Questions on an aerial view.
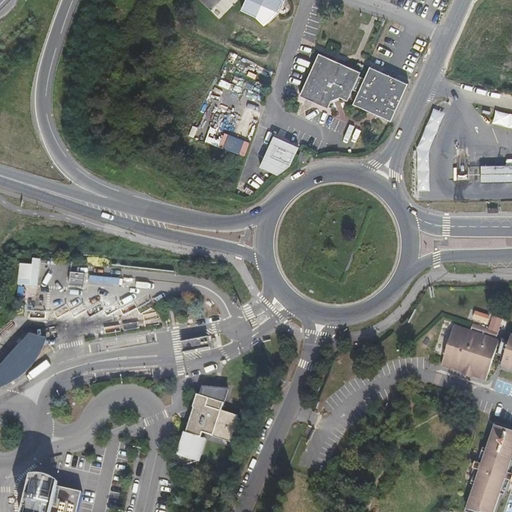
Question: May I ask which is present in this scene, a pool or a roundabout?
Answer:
roundabout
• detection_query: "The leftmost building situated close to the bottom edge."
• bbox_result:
[18,468,60,512]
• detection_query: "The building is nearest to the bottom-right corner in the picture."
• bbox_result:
[464,424,512,512]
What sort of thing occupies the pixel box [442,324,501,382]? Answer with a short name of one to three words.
house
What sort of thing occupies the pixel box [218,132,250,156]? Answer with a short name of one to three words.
shed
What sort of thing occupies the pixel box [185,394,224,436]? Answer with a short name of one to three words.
building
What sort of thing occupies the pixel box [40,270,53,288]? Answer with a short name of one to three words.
vehicle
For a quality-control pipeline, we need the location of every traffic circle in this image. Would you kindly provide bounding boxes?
[254,164,418,324]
